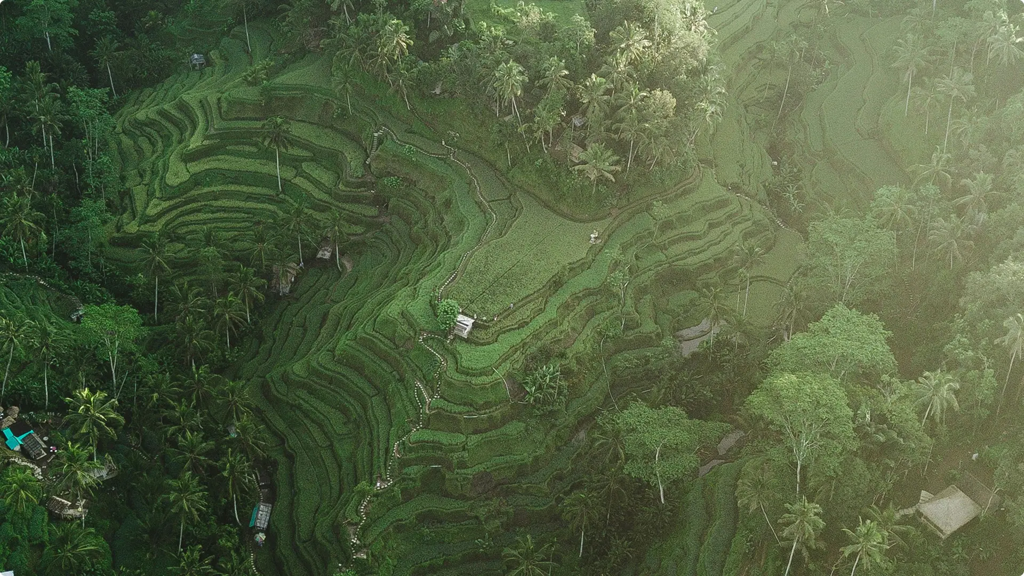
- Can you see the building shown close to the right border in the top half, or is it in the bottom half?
bottom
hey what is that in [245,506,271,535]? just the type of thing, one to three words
shed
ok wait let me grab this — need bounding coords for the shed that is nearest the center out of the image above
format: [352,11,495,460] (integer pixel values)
[445,311,478,352]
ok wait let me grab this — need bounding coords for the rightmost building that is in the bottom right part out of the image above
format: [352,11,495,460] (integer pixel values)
[918,490,987,545]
